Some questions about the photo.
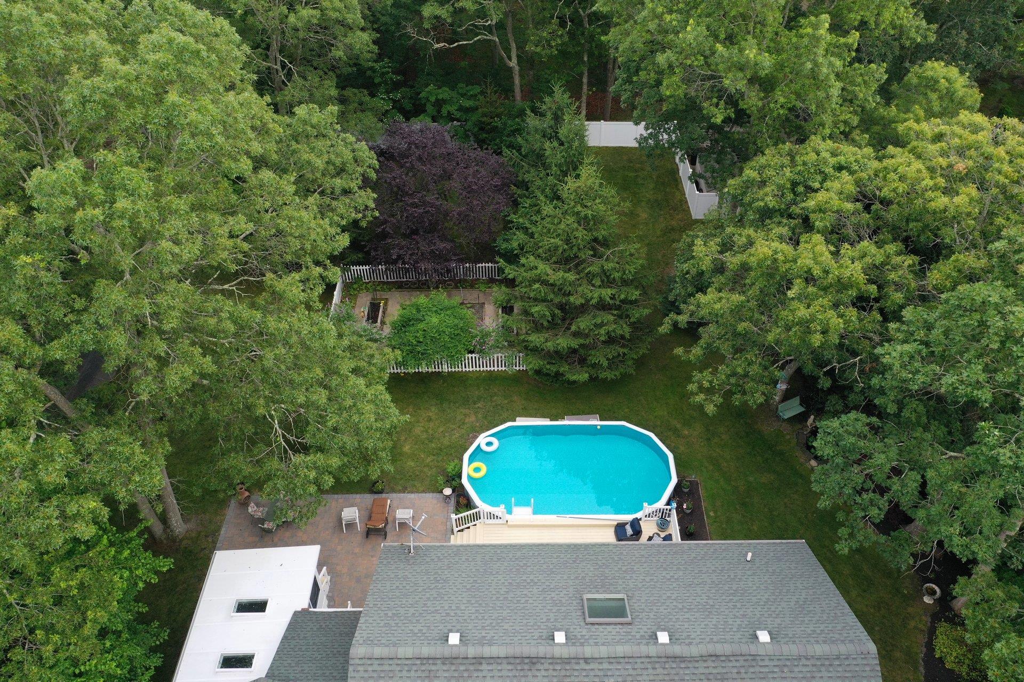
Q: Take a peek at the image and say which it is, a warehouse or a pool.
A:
pool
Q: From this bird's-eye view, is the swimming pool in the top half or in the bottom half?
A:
bottom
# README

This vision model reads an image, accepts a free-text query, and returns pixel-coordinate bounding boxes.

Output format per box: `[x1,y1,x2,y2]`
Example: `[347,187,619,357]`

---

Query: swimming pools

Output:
[459,422,681,529]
